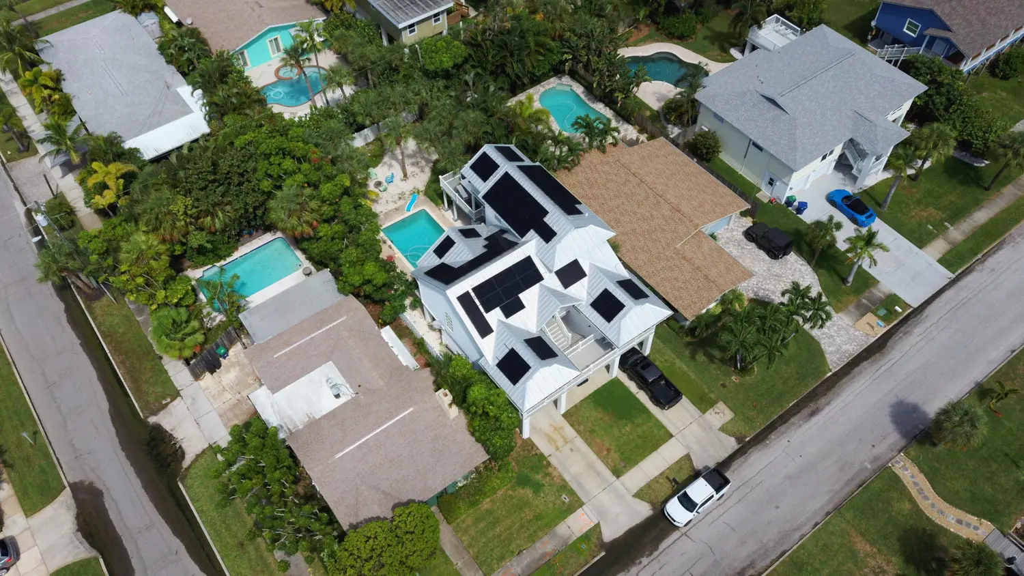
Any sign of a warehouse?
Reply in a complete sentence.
No, the photo shows no warehouse.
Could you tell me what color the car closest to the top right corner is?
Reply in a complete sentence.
The car closest to the top right corner is blue.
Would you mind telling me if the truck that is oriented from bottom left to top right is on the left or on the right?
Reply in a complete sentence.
The truck that is oriented from bottom left to top right sits on the right side.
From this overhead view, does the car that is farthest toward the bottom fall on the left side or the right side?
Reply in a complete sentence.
The car that is farthest toward the bottom is on the left side of the image.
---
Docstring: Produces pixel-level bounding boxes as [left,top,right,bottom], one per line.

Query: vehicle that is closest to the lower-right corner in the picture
[665,462,733,527]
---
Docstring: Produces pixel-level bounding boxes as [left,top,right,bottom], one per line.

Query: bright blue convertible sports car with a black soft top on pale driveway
[828,192,877,228]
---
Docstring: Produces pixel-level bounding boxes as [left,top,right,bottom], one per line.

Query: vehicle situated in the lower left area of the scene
[0,537,20,572]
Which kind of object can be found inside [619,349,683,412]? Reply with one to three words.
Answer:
truck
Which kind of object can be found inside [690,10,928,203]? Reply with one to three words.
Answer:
house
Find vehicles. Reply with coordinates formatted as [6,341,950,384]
[743,224,792,258]
[665,462,733,527]
[0,537,20,572]
[619,349,683,412]
[828,192,877,228]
